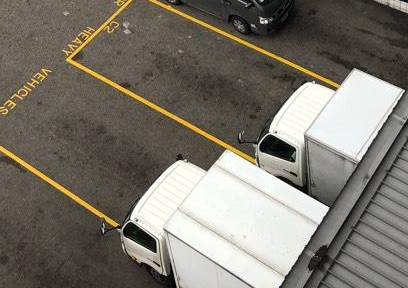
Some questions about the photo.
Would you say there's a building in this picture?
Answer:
No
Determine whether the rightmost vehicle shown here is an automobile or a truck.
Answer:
truck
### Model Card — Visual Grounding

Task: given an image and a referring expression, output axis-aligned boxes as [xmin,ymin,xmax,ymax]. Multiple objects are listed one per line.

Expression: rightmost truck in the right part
[243,68,402,205]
